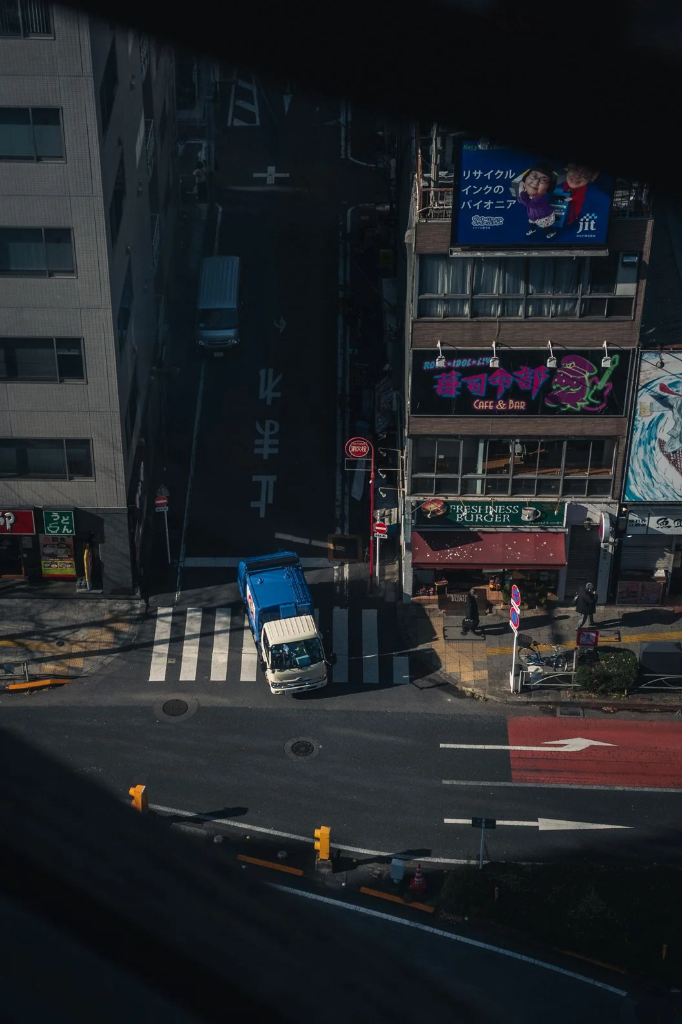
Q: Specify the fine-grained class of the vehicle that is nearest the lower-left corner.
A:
truck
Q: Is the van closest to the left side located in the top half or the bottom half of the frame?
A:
top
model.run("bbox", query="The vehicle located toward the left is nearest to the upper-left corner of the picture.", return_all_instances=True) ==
[192,252,243,346]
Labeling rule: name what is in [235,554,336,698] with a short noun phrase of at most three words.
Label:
truck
